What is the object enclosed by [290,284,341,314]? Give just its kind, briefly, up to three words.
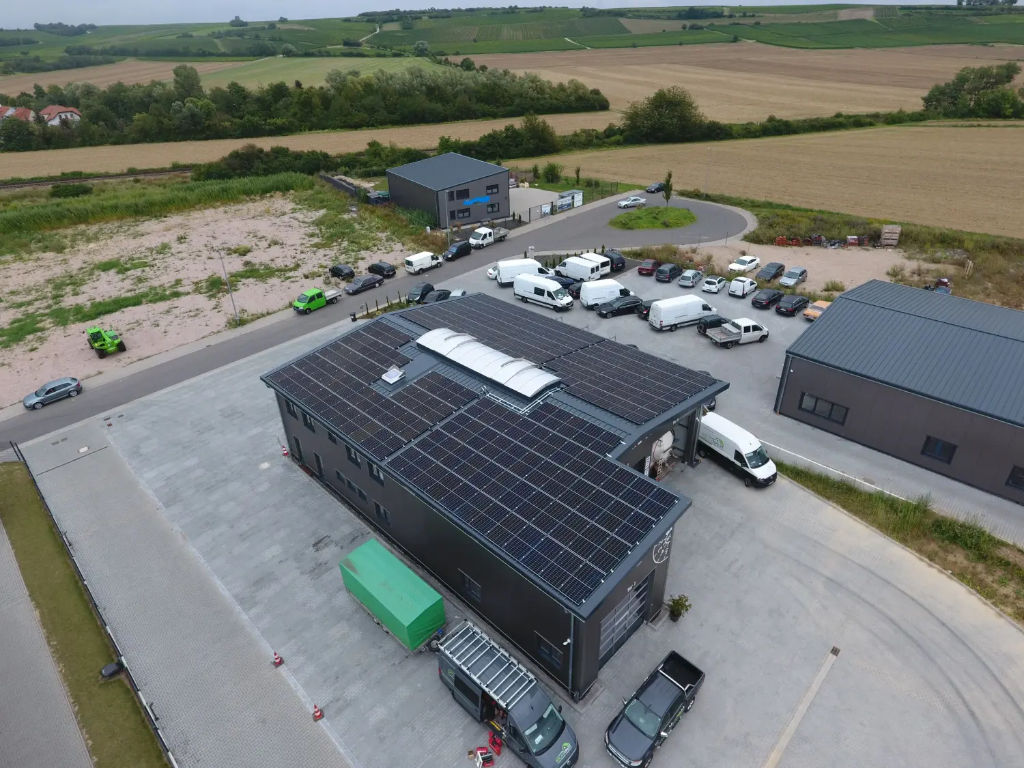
truck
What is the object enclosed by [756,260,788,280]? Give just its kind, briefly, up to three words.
car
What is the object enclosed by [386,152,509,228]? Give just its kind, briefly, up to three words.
building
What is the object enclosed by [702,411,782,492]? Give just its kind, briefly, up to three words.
van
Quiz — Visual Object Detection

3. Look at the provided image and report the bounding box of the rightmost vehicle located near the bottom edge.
[601,651,709,768]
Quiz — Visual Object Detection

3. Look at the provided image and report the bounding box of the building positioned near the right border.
[775,279,1024,505]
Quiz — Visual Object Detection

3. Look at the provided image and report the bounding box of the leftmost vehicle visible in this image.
[15,375,84,410]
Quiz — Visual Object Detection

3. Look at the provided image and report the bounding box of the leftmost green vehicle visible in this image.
[75,321,126,359]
